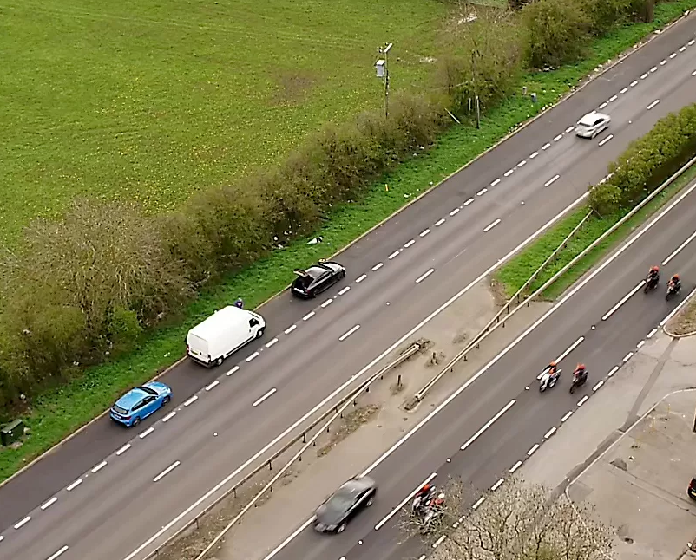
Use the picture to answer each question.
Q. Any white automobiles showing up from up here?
Yes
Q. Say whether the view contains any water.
No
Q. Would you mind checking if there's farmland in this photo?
Yes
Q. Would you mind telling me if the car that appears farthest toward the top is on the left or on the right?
right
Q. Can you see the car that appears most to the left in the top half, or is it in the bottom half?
bottom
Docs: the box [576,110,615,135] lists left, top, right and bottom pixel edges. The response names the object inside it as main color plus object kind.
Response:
white car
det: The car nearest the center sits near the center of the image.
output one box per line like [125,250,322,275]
[296,255,351,290]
